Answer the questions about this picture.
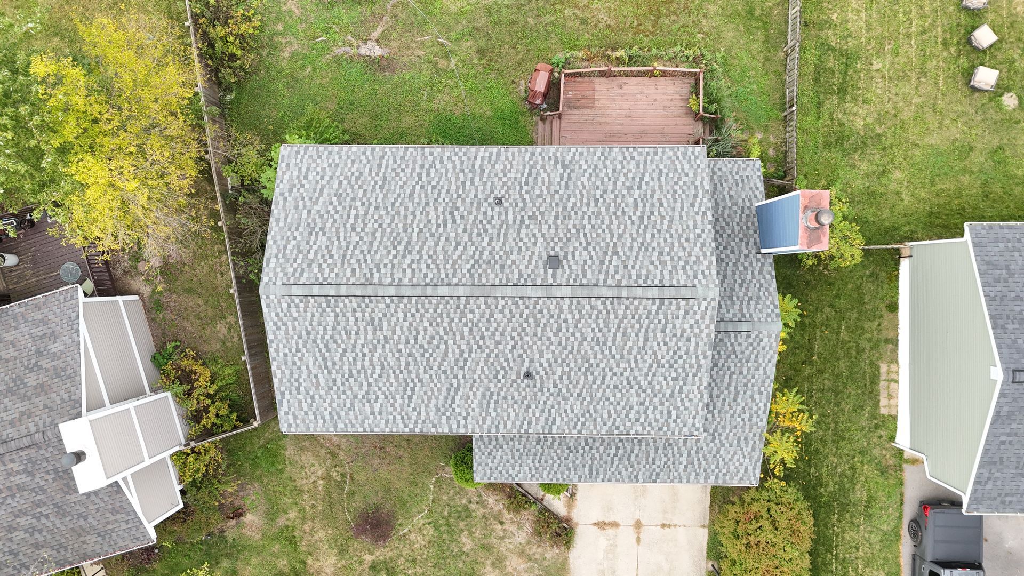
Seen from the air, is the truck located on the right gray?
Yes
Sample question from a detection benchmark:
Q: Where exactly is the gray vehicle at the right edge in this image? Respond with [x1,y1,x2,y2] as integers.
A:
[903,496,986,576]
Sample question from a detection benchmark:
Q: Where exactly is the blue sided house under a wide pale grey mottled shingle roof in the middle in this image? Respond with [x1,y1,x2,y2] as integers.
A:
[260,142,835,489]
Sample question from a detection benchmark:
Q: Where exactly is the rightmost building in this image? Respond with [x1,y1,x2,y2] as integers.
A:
[883,220,1024,517]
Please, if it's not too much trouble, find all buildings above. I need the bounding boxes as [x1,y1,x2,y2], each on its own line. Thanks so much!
[883,220,1024,517]
[260,142,835,489]
[0,283,200,576]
